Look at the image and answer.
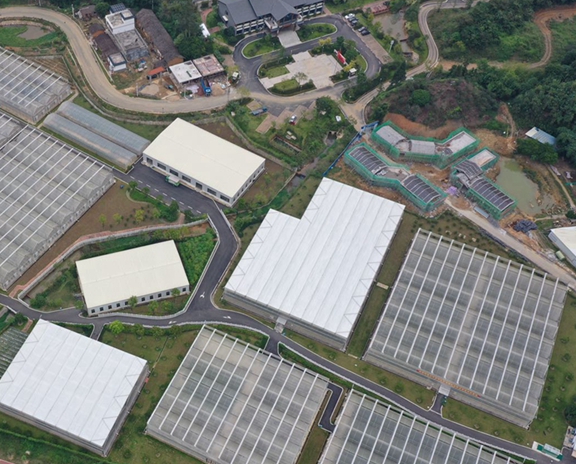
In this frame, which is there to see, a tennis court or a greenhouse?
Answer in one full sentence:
This aerial view contains a greenhouse.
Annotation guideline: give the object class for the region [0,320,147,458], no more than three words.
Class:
greenhouse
